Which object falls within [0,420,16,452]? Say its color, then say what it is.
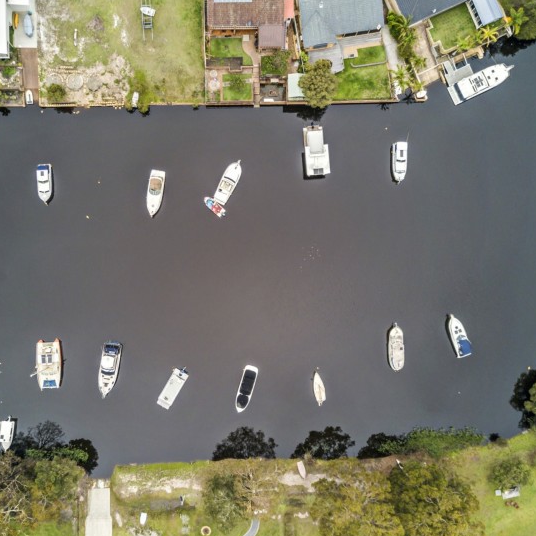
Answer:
white boat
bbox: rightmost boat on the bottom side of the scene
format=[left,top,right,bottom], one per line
[447,314,470,359]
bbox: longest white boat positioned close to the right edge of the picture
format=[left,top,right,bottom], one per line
[443,55,515,108]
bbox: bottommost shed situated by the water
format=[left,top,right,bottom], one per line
[288,74,307,102]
